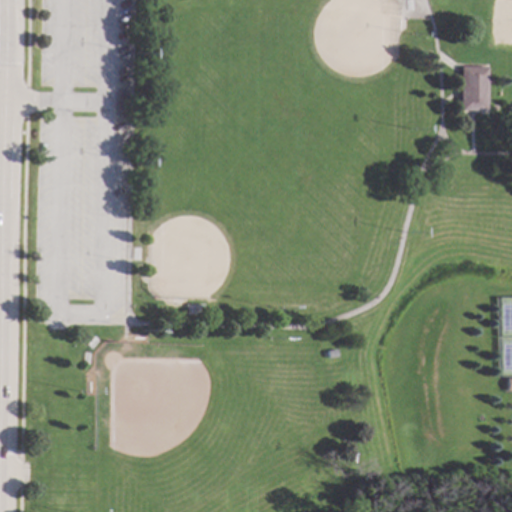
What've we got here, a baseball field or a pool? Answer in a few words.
baseball field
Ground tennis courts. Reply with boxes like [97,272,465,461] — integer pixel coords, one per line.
[502,338,512,376]
[502,298,512,336]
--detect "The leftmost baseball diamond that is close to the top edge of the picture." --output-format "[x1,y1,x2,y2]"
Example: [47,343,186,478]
[314,0,404,77]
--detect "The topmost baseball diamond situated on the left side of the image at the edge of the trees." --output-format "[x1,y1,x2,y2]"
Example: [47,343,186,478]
[149,214,230,306]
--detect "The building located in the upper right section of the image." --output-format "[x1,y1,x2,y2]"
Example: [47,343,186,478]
[462,64,491,112]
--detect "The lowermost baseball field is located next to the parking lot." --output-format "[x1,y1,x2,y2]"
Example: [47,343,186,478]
[104,352,211,457]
